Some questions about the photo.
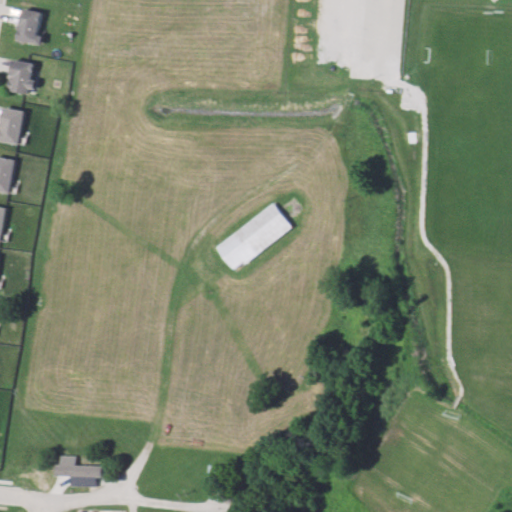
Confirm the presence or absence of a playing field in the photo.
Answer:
Yes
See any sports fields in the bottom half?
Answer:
Yes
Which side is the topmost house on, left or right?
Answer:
left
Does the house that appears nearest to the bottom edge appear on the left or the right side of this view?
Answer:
left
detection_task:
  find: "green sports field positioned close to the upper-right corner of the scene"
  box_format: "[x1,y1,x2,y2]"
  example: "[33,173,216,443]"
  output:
[428,27,491,85]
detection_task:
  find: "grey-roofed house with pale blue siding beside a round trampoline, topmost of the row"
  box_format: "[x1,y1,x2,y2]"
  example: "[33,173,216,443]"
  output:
[13,8,42,44]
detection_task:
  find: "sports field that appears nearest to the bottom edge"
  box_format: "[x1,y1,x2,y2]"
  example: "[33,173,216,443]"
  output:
[357,390,512,512]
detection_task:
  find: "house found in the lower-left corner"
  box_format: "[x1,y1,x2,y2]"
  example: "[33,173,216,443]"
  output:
[53,455,101,488]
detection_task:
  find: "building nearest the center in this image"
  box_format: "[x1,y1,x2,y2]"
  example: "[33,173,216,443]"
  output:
[216,202,293,271]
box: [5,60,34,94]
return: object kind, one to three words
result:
house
